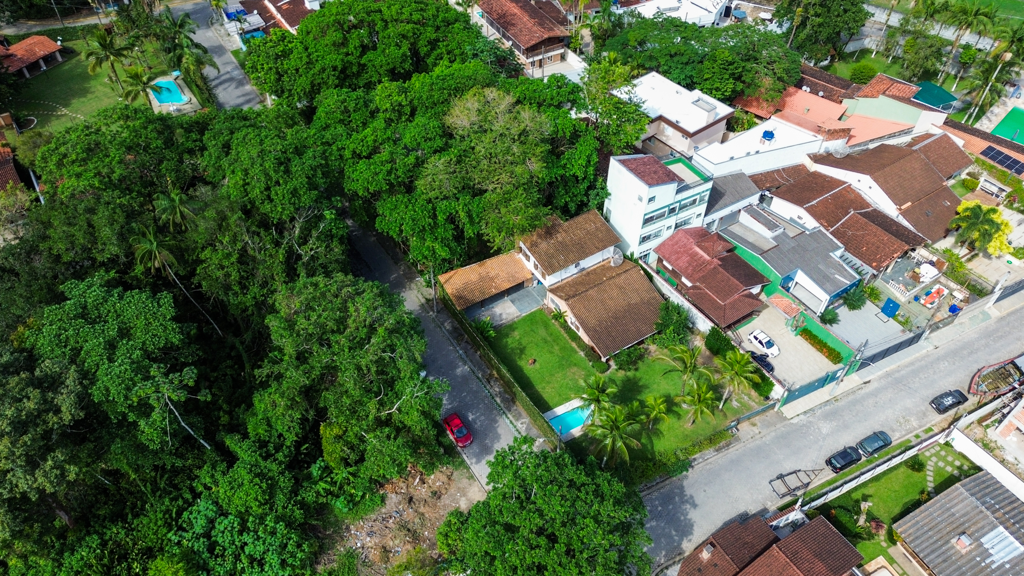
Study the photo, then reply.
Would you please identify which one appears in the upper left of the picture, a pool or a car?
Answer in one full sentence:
There is a pool in the upper left of the picture.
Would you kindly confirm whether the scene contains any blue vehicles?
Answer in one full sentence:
Yes, the picture does show a blue vehicle.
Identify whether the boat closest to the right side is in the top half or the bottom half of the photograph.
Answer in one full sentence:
It is in the bottom half that the boat closest to the right side appears.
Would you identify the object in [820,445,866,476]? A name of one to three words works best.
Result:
car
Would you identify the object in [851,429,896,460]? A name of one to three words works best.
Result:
car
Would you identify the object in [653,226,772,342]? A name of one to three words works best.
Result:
house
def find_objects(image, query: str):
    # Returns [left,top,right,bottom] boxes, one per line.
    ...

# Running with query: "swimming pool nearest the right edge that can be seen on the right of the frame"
[989,103,1024,144]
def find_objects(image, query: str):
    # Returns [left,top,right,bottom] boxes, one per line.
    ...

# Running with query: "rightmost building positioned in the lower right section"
[980,394,1024,477]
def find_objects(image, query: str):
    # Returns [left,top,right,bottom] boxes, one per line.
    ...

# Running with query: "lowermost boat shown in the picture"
[966,352,1024,401]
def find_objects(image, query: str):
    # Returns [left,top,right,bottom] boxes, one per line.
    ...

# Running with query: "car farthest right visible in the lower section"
[925,389,971,415]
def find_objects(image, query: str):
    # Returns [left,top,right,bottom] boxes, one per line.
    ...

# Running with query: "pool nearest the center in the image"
[546,393,612,442]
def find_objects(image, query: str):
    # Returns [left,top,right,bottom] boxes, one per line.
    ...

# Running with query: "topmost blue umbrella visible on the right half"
[728,9,750,22]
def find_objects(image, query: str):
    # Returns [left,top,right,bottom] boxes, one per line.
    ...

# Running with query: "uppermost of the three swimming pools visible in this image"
[149,77,202,116]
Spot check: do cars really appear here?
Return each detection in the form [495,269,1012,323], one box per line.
[442,409,474,452]
[744,327,784,361]
[851,429,896,460]
[925,389,971,415]
[820,445,866,476]
[744,344,780,376]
